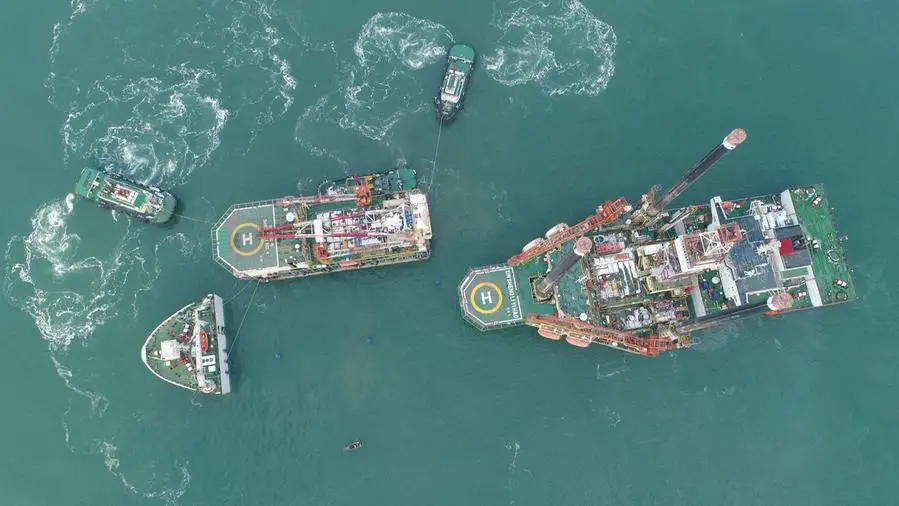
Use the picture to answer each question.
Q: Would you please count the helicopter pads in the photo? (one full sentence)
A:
The picture shows 2 helicopter pads.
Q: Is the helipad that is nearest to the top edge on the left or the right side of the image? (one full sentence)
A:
The helipad that is nearest to the top edge sits on the left side.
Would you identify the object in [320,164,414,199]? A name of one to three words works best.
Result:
boat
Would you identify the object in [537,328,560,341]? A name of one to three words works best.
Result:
boat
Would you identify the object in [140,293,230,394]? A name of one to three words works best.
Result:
ship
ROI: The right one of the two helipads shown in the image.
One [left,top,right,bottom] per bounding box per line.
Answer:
[457,264,527,331]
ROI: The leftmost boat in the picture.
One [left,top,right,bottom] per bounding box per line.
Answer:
[75,164,177,220]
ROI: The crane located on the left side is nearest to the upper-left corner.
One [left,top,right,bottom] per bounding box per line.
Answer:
[278,185,376,209]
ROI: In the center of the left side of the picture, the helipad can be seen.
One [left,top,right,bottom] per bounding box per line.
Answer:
[211,199,279,278]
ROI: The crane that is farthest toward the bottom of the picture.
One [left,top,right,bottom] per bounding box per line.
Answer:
[524,312,680,361]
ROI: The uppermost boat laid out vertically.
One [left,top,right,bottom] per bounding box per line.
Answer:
[435,42,475,125]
